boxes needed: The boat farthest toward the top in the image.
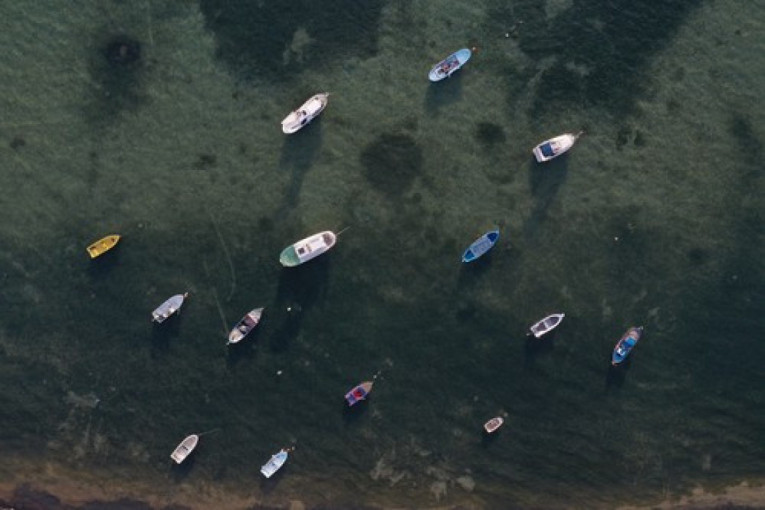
[428,48,471,81]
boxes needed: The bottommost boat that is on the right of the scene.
[486,417,504,432]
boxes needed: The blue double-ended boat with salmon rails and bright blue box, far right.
[613,329,642,364]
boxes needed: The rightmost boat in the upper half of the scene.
[529,132,583,163]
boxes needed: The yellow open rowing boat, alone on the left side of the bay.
[87,235,122,258]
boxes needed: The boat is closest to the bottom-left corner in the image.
[171,435,199,463]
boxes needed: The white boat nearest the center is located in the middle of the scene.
[278,233,336,267]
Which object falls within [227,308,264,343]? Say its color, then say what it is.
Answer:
white boat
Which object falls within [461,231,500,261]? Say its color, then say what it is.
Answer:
blue boat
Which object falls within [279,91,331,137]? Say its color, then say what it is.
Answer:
white boat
